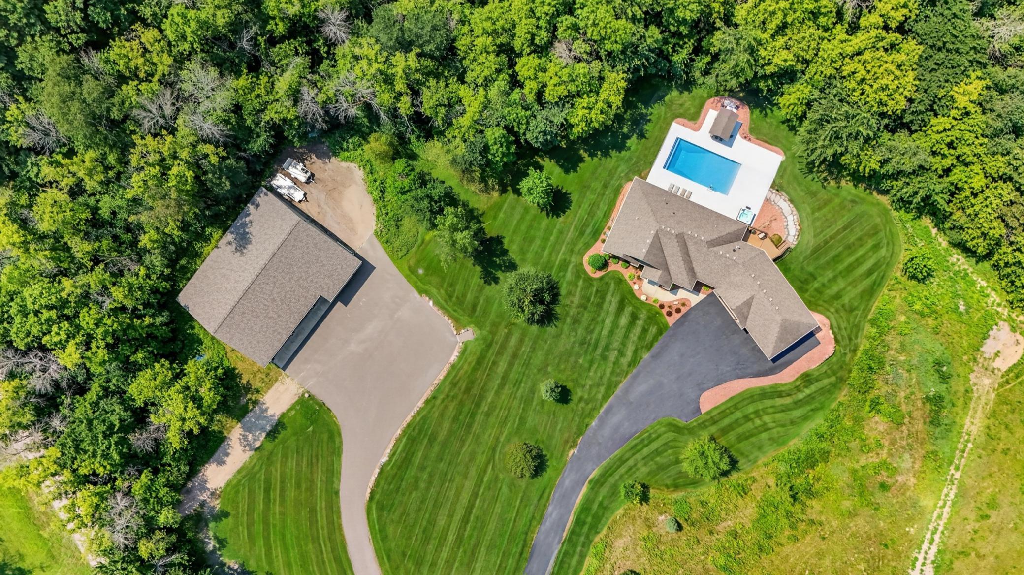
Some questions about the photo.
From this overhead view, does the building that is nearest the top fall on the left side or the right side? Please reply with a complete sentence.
The building that is nearest the top sits on the right side.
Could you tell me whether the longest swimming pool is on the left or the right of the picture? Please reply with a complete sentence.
You can find the longest swimming pool on the right side of the picture.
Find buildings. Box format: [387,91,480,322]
[707,107,739,142]
[178,188,362,367]
[602,176,819,360]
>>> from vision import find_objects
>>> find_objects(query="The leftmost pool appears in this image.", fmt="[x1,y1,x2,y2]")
[663,137,741,194]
